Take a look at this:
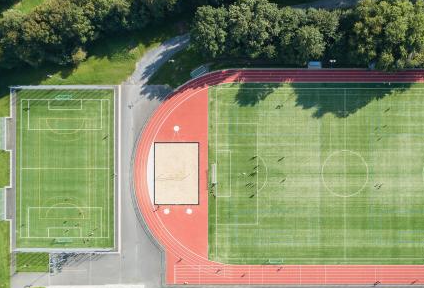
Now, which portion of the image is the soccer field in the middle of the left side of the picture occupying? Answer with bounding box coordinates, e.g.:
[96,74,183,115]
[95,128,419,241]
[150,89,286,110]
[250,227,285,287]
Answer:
[6,86,118,253]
